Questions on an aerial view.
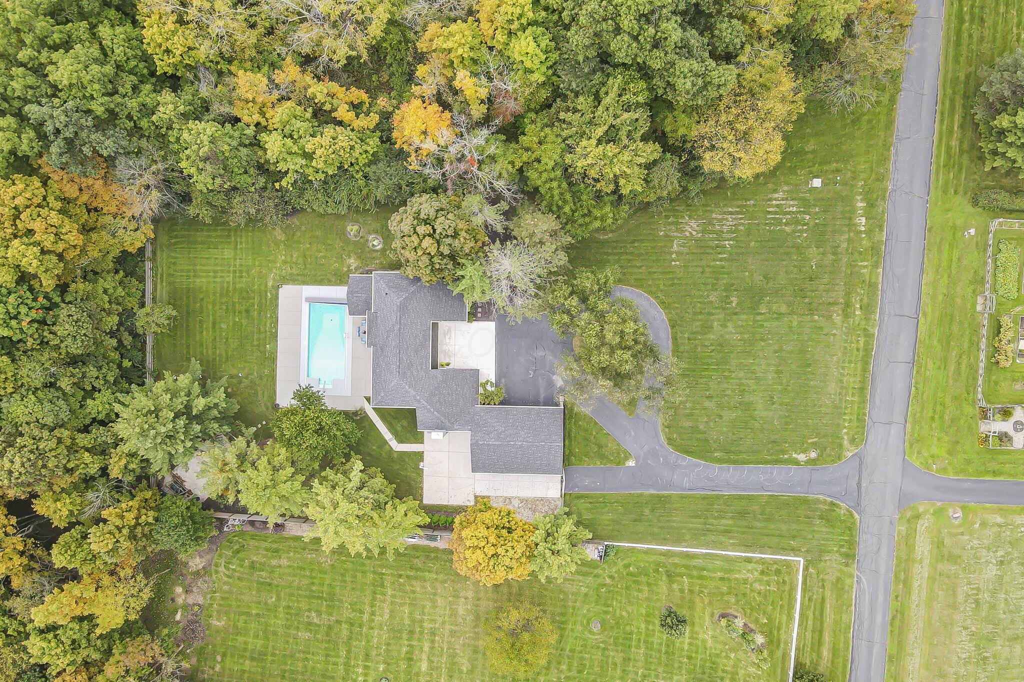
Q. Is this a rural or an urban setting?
rural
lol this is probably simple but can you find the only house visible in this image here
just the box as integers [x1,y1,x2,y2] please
[347,271,564,474]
